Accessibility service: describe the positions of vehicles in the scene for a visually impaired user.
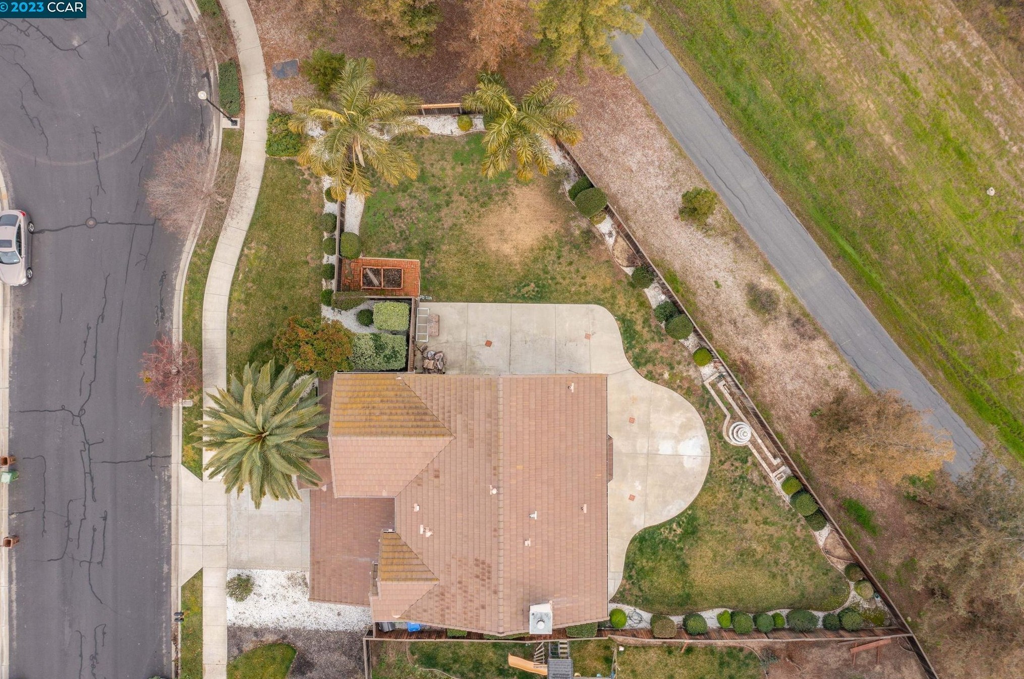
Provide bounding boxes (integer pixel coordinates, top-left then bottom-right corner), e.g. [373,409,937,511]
[0,209,34,286]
